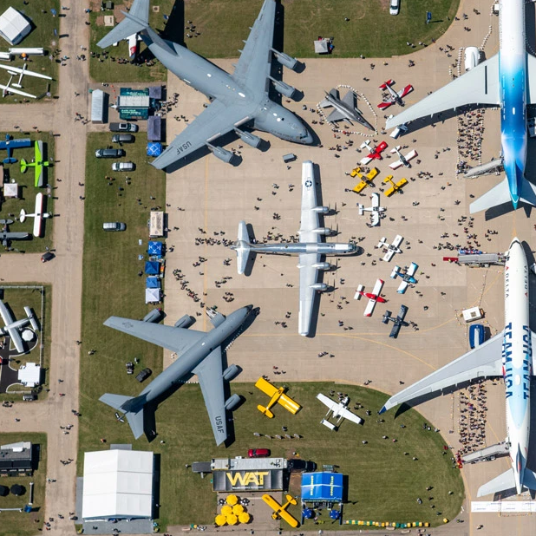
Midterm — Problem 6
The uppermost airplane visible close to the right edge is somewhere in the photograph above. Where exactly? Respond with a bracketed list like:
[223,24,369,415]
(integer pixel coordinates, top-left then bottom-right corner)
[388,0,536,214]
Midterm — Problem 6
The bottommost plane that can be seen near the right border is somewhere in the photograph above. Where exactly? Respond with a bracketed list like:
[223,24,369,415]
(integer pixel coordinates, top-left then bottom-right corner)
[379,238,536,497]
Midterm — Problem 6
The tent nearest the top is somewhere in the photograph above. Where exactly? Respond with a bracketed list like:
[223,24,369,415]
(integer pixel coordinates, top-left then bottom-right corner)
[0,6,31,45]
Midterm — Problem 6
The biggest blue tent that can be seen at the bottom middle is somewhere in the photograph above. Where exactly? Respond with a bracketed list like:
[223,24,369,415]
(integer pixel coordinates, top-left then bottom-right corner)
[302,473,344,528]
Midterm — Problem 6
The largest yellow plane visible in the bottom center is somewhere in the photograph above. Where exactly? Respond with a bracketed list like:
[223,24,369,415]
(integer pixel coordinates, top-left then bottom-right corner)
[255,377,300,420]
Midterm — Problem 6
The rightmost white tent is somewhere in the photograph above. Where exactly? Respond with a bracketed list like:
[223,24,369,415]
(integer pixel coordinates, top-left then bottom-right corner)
[82,451,154,522]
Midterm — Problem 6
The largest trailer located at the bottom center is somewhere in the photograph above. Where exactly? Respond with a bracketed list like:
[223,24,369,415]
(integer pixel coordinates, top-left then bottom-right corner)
[192,458,289,490]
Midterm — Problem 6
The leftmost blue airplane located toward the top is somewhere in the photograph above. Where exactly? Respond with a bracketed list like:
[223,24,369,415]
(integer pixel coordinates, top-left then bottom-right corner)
[0,133,31,164]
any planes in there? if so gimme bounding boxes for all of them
[317,87,375,131]
[378,234,404,261]
[18,192,54,236]
[97,0,315,169]
[390,262,419,294]
[122,37,145,60]
[19,139,51,185]
[263,495,296,526]
[101,305,253,445]
[388,0,536,214]
[318,391,363,431]
[231,162,358,333]
[352,165,380,193]
[358,192,388,226]
[381,303,411,338]
[388,111,412,140]
[0,68,37,98]
[0,64,52,86]
[0,300,39,353]
[0,133,31,164]
[379,238,536,497]
[0,221,29,250]
[379,79,415,110]
[361,138,390,165]
[391,144,420,170]
[255,377,300,420]
[353,278,389,316]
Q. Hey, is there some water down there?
No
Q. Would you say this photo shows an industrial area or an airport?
airport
